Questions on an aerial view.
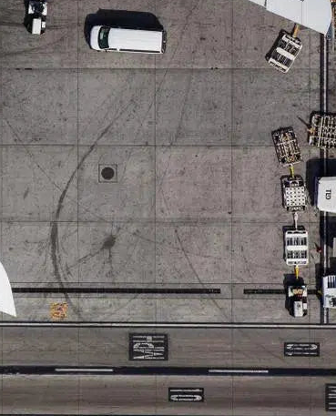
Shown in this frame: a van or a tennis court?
van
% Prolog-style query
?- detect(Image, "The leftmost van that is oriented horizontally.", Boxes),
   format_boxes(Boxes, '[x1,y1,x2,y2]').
[91,22,166,53]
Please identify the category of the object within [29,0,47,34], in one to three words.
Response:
work vehicle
